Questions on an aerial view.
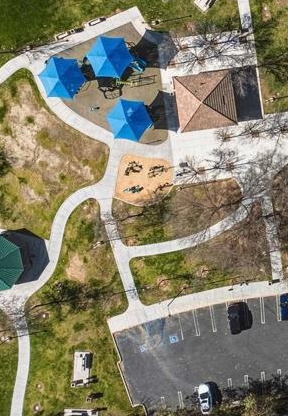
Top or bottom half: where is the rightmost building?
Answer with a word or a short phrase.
top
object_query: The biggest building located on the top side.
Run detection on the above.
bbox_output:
[172,69,237,132]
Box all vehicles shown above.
[225,303,242,337]
[277,294,288,323]
[195,385,212,416]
